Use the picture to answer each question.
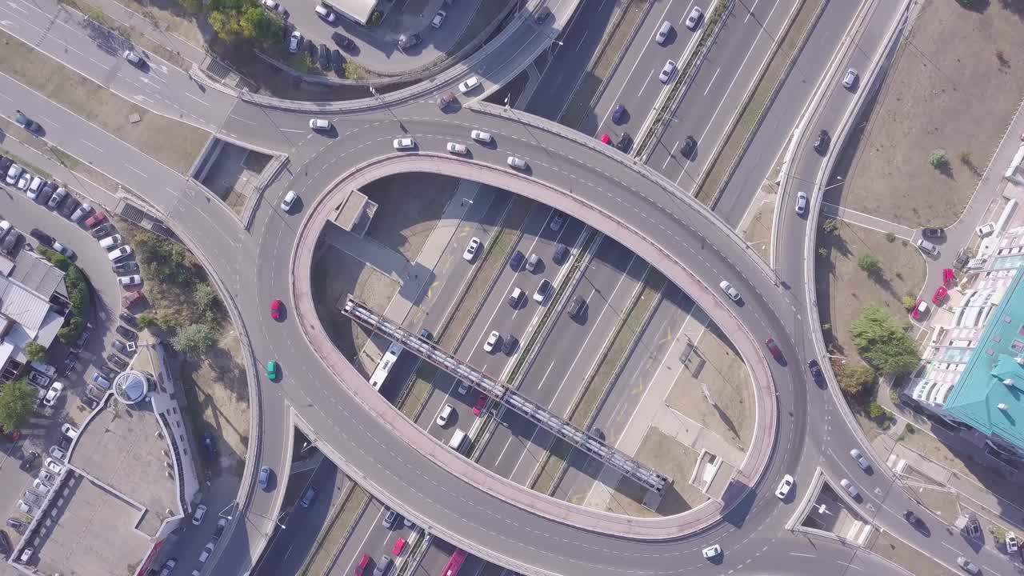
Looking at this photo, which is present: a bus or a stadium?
bus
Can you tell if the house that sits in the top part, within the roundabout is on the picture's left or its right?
left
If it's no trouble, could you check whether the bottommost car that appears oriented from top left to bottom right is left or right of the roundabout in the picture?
right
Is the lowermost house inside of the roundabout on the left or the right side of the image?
right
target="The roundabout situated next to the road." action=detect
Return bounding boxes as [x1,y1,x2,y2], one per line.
[251,97,818,576]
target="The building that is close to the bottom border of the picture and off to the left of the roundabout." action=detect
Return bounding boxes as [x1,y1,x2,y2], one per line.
[0,392,209,576]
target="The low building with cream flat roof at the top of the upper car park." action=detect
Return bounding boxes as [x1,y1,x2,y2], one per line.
[322,0,388,34]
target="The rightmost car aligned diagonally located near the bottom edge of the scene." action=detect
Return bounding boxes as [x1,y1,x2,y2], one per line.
[954,555,980,576]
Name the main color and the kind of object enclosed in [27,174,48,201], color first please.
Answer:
white car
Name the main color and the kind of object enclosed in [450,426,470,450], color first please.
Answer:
white vehicle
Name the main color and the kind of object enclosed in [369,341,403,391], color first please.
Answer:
white bus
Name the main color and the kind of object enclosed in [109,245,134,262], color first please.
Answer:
white car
